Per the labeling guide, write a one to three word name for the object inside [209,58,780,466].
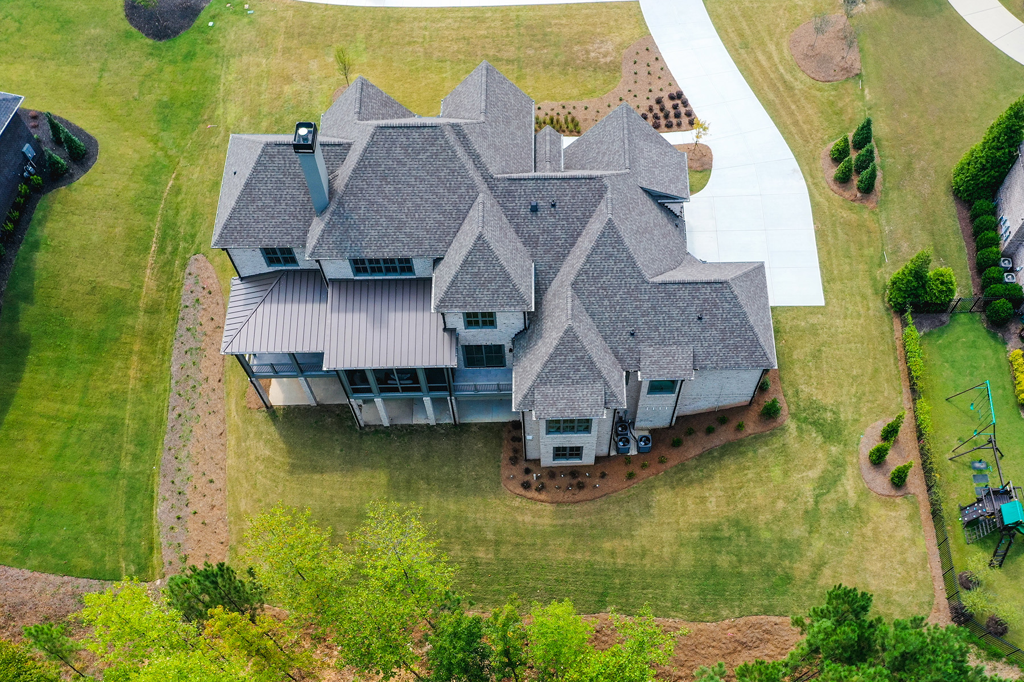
house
